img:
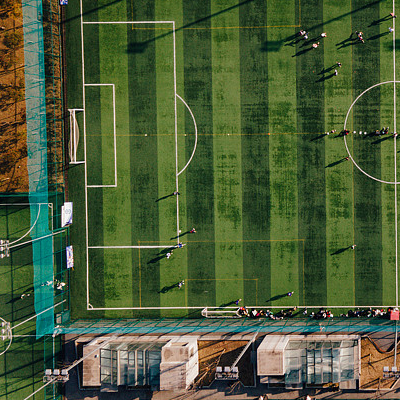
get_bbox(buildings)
[258,337,361,391]
[83,337,198,395]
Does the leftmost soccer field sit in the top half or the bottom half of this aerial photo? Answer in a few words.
bottom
